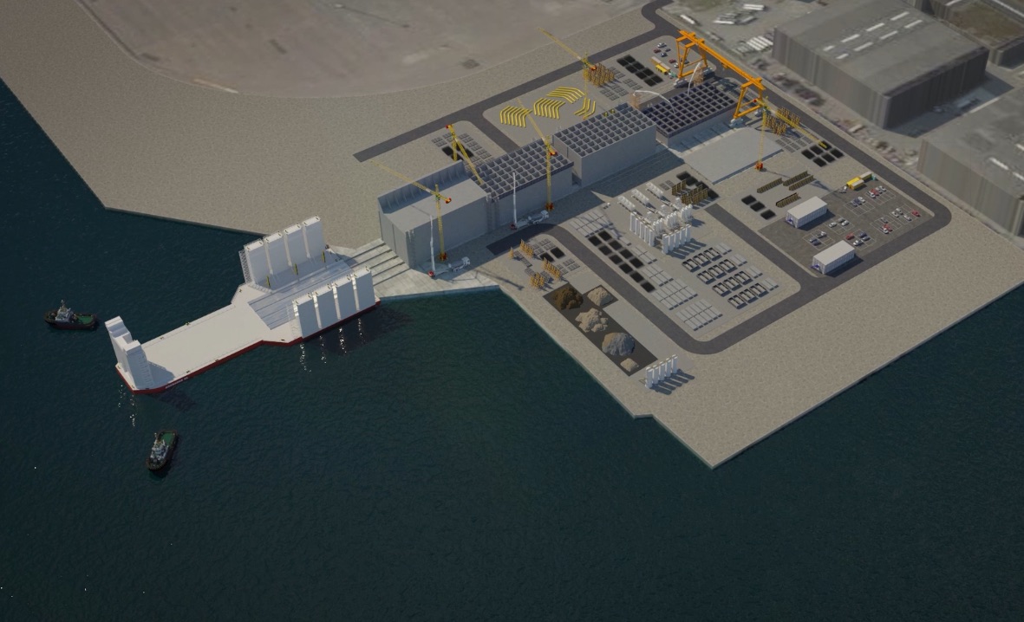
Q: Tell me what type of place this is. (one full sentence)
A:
This looks like a port.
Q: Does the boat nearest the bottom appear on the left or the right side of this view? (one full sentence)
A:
The boat nearest the bottom sits on the left side.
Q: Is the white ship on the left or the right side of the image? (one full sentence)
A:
The white ship is on the left side of the image.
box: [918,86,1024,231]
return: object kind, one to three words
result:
building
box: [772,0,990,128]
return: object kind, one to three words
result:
warehouse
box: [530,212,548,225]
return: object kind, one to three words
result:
vehicle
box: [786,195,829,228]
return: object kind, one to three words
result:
shed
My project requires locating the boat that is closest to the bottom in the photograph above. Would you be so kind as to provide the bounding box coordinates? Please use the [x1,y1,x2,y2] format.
[145,425,179,469]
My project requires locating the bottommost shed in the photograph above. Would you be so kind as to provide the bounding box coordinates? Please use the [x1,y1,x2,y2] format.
[812,240,857,274]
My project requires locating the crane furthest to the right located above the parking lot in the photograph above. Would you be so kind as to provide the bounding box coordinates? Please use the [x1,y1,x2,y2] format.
[752,95,829,168]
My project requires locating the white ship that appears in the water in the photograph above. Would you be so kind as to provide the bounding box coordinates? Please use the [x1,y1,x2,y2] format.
[103,215,381,395]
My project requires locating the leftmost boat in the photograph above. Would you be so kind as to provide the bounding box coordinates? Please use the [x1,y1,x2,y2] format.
[39,303,98,328]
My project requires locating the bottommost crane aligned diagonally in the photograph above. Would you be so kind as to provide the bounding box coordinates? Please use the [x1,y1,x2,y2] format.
[370,159,452,261]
